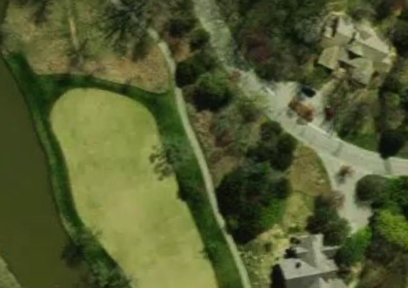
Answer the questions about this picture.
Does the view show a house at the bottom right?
Yes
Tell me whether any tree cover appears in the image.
Yes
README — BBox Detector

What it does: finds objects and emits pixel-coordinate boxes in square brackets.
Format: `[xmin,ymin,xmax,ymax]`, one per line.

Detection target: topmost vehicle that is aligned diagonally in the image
[301,85,316,98]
